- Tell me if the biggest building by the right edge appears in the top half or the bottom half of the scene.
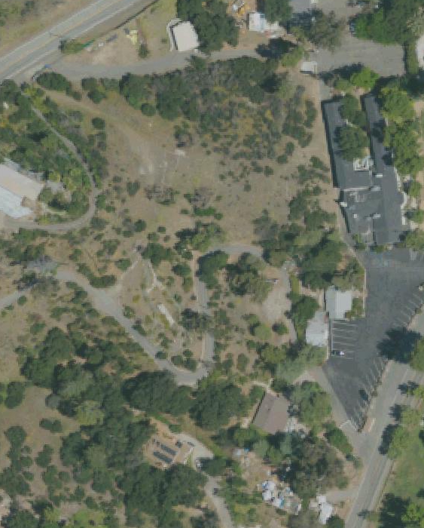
top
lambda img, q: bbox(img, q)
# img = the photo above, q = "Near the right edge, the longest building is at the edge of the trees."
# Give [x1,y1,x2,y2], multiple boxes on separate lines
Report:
[323,95,405,244]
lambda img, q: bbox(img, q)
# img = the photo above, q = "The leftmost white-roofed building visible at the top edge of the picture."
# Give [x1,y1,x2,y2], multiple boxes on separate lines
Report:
[166,18,199,51]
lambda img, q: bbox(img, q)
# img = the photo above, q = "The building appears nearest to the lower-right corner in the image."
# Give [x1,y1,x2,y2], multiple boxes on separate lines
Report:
[309,496,333,524]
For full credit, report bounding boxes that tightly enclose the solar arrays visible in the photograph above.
[160,443,178,457]
[153,451,173,466]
